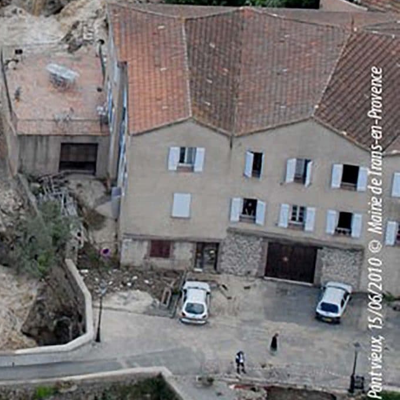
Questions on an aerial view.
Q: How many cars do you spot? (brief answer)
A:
2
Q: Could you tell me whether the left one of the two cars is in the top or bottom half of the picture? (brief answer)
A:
bottom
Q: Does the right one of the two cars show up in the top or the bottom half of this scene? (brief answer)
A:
bottom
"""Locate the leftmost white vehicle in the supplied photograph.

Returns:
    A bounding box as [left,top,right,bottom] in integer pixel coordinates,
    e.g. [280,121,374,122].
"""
[180,285,214,331]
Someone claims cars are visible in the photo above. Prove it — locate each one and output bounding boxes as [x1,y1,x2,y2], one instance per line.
[312,282,356,335]
[180,285,214,331]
